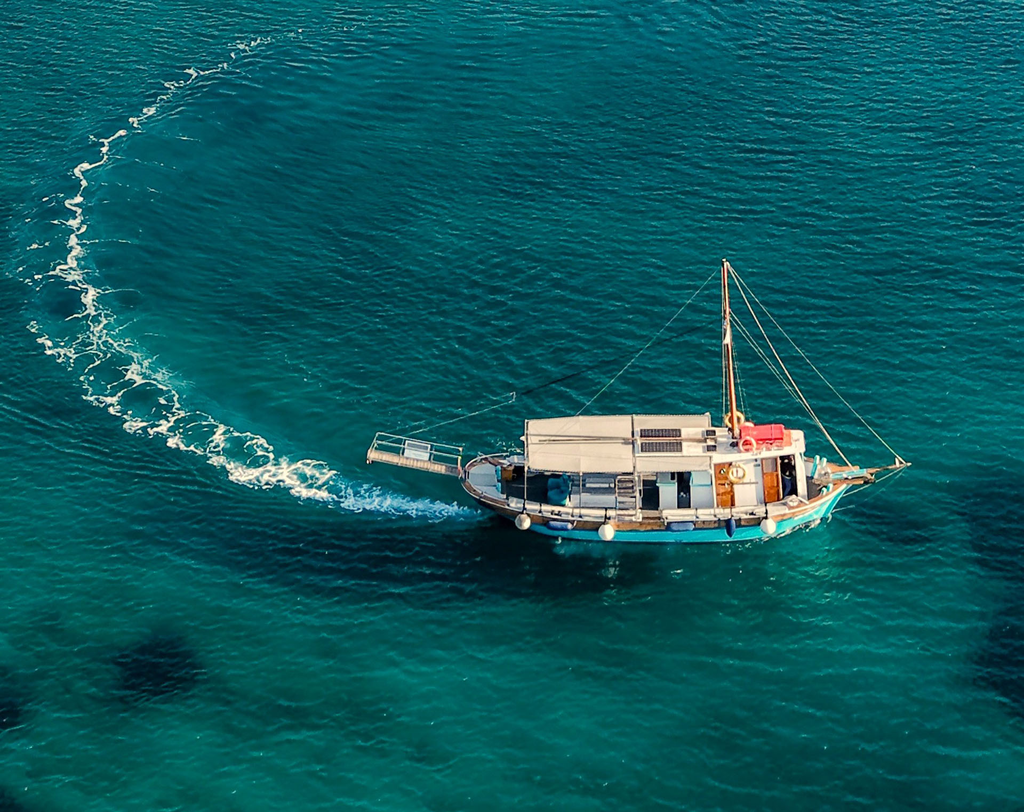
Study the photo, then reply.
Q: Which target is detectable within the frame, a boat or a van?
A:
boat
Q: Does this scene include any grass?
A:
No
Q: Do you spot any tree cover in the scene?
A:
No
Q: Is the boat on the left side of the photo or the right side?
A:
right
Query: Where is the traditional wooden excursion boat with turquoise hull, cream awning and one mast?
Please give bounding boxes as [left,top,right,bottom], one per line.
[460,259,911,543]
